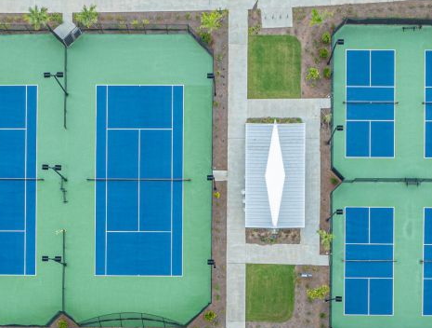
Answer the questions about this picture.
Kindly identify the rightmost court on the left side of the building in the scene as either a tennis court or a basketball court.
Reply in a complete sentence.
It turns out the rightmost court on the left side of the building is a tennis court.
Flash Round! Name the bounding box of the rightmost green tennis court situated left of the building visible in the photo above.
[63,34,213,326]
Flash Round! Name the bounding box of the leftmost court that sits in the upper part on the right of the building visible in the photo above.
[332,24,410,178]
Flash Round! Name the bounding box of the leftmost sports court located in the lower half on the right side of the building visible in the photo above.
[331,180,410,328]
